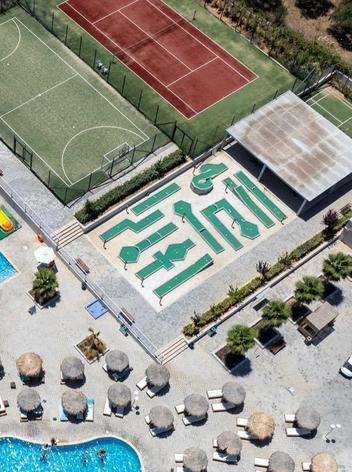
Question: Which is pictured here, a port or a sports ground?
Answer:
sports ground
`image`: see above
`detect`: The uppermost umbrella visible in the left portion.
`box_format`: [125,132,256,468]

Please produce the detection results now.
[34,246,54,270]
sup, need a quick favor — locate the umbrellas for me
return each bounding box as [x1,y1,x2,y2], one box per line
[34,246,54,270]
[62,394,87,418]
[16,391,42,415]
[182,395,209,421]
[291,409,318,434]
[144,367,171,392]
[215,432,242,459]
[148,409,174,434]
[103,352,130,377]
[105,385,132,410]
[59,359,84,383]
[17,355,44,381]
[219,384,246,409]
[180,449,208,472]
[244,414,274,442]
[266,456,293,472]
